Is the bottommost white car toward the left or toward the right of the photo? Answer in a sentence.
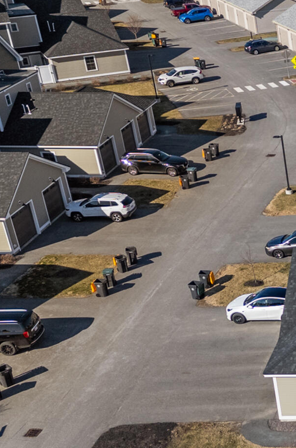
The bottommost white car appears in the right half of the scene.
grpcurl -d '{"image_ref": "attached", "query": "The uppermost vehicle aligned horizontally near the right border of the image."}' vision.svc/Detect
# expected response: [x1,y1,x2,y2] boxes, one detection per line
[238,33,285,55]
